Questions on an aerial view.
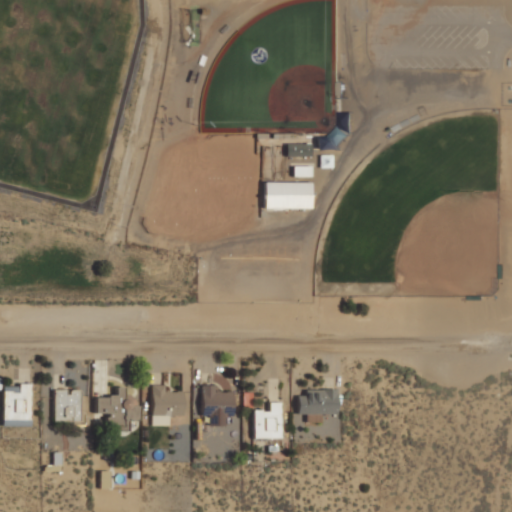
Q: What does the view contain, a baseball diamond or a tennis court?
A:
baseball diamond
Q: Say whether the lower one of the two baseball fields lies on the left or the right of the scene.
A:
right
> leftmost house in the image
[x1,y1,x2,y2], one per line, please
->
[4,384,32,426]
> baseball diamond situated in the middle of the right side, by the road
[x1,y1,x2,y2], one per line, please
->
[316,109,498,296]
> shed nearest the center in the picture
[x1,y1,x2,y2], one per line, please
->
[266,182,315,209]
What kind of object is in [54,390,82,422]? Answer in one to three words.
house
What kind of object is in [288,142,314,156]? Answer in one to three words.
shed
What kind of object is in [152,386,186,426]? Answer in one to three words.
house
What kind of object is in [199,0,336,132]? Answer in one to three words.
baseball field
